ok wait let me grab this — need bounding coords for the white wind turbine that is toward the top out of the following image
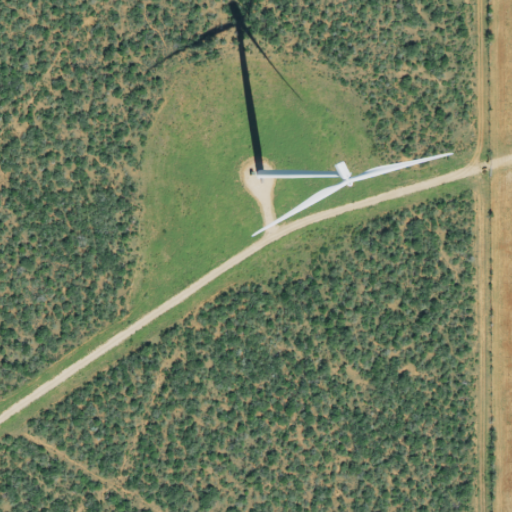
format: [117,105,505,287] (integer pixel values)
[252,153,454,236]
